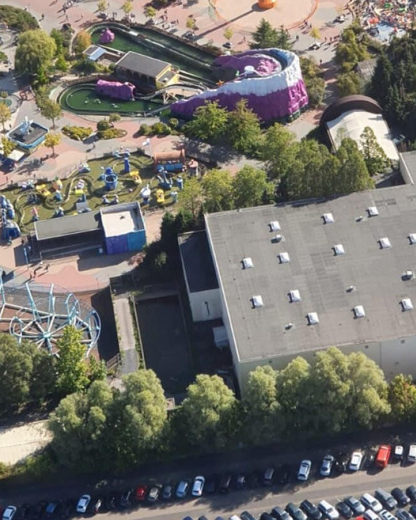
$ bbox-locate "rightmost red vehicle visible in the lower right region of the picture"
[376,441,392,468]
